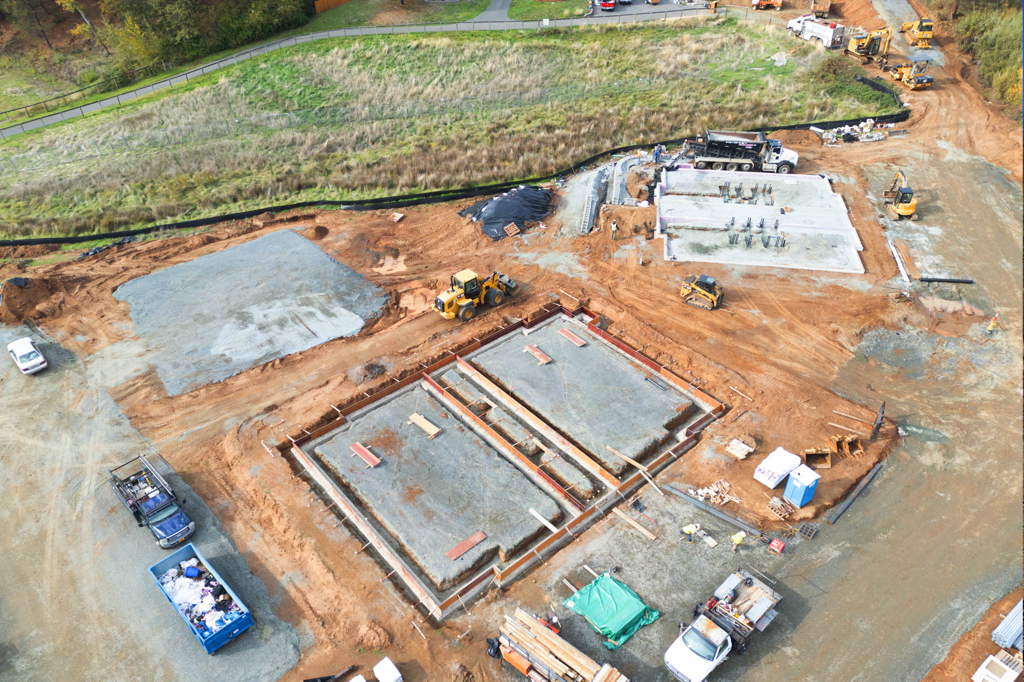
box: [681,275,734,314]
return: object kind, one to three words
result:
work vehicle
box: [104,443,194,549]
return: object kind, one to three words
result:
truck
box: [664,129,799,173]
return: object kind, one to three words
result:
truck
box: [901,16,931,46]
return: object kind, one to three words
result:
work vehicle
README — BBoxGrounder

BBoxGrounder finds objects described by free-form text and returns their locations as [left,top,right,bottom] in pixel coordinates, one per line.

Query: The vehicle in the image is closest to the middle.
[434,269,521,324]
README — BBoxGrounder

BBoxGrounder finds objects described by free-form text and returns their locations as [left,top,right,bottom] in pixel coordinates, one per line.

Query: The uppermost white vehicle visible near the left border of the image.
[4,331,46,372]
